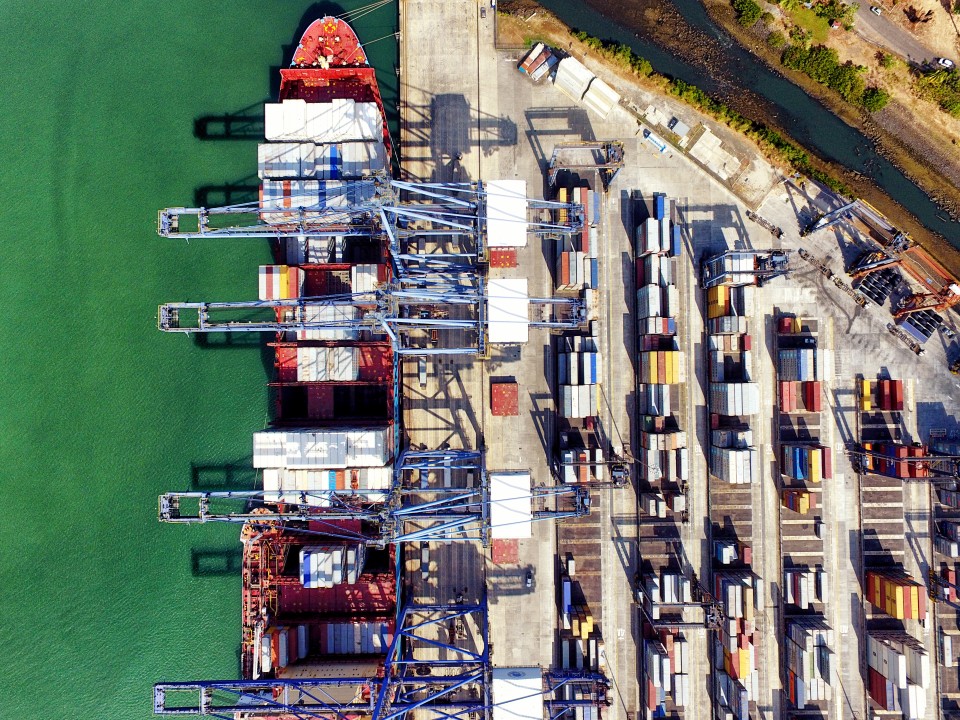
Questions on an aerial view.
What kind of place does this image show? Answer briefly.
port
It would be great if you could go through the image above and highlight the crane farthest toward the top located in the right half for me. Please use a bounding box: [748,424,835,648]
[547,141,625,195]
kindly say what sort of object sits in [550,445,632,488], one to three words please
container crane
